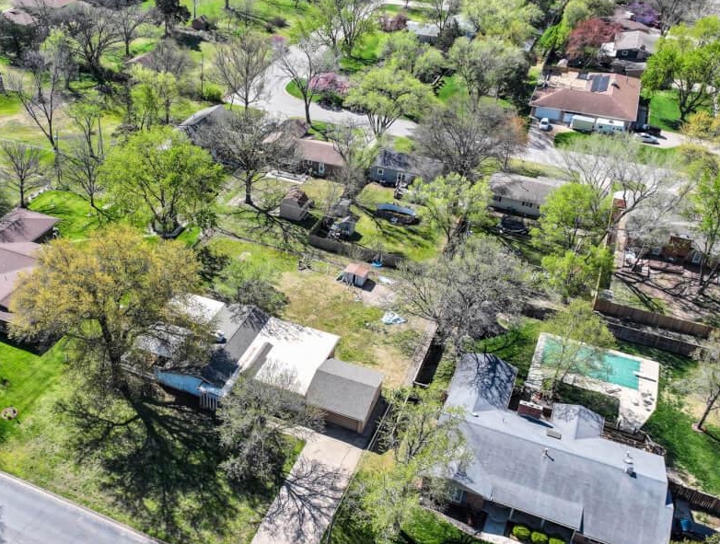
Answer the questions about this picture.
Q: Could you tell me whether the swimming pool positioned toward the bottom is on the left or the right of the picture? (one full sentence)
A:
It is on the right.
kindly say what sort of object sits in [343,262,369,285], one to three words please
shed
